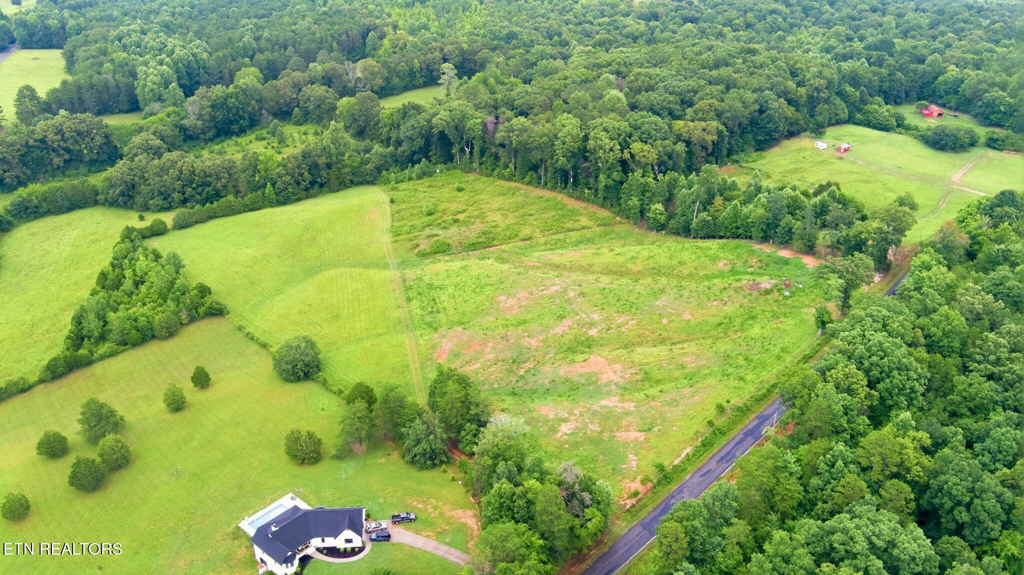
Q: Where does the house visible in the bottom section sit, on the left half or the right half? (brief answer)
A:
left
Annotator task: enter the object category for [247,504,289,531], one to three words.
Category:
swimming pool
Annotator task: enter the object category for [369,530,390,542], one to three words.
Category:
vehicle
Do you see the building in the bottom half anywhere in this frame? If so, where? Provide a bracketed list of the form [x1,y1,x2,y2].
[250,507,368,575]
